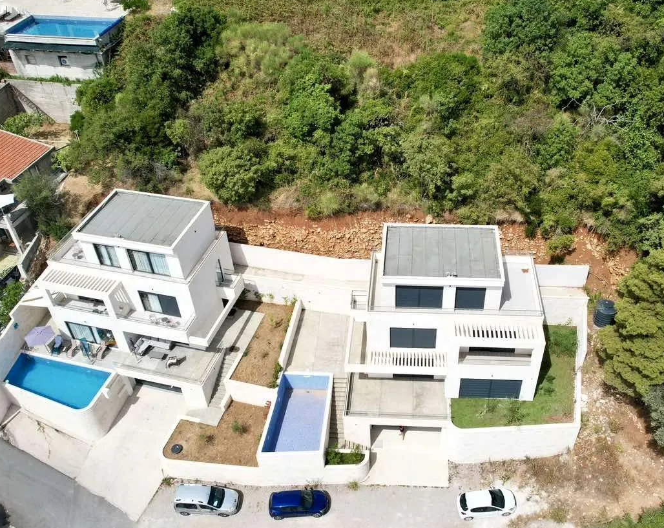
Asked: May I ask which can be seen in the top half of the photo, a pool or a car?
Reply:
pool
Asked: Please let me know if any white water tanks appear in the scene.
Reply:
No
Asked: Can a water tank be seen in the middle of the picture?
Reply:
No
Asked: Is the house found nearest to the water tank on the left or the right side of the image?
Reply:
right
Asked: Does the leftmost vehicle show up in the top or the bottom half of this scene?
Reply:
bottom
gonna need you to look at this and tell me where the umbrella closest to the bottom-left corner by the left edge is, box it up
[24,325,58,354]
